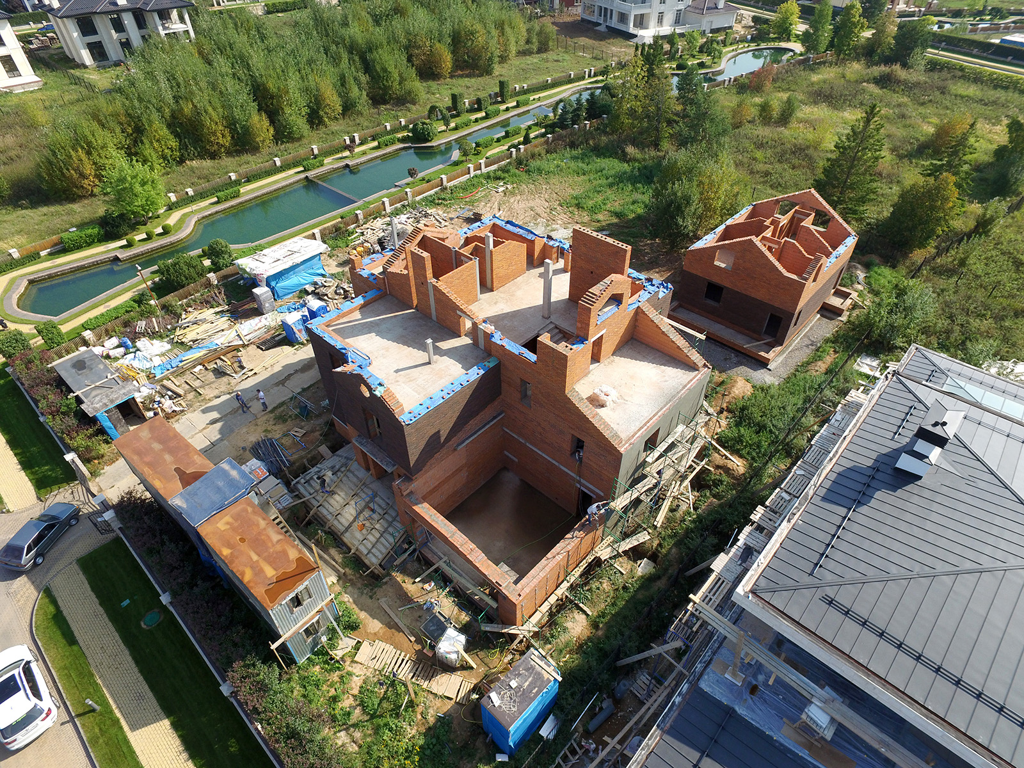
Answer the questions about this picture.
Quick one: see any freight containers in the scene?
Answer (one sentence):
Yes, a freight container can be made out from above.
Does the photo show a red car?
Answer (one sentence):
No, no red car can be seen from above.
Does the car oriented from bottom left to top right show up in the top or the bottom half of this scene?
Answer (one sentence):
The car oriented from bottom left to top right is in the bottom half of the image.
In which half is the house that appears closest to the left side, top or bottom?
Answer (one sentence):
Seen from above, the house that appears closest to the left side lies in the top half of the view.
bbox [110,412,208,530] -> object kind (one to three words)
shipping container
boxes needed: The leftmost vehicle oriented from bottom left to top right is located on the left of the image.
[0,504,82,576]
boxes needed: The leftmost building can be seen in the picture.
[0,16,46,91]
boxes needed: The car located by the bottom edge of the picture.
[0,639,61,750]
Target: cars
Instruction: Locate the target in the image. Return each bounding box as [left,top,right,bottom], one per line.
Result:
[0,504,82,576]
[0,639,61,750]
